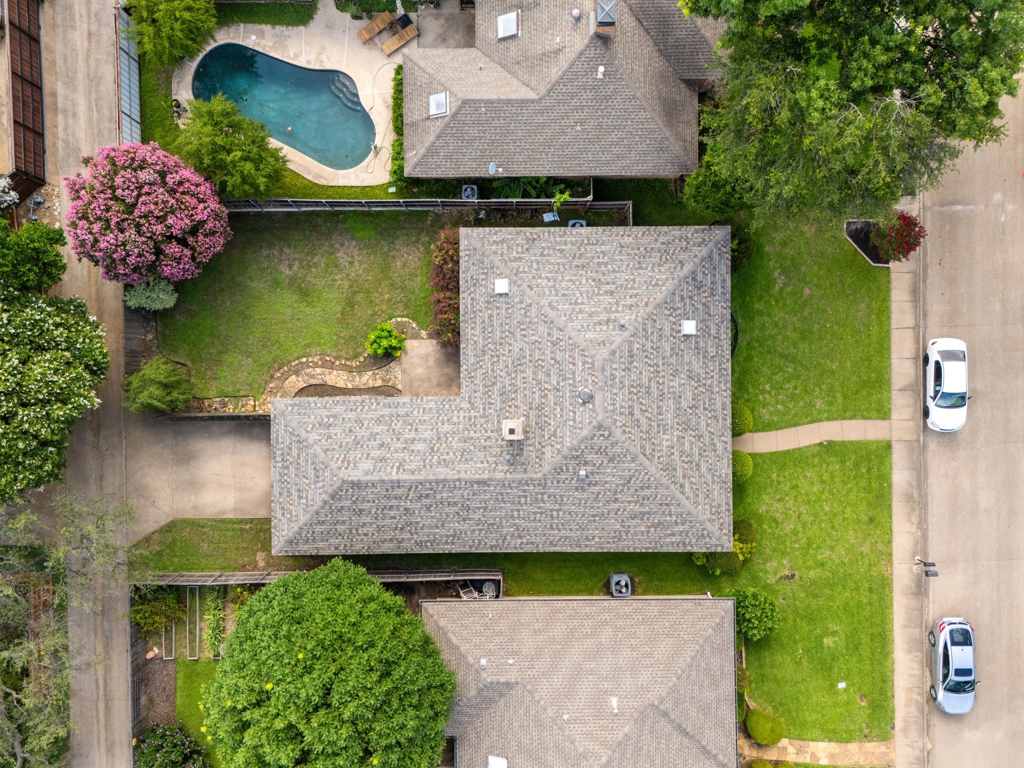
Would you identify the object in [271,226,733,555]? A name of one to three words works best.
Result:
house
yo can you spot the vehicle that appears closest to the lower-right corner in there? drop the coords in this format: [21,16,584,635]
[926,614,981,712]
